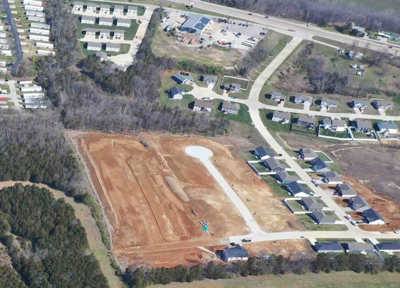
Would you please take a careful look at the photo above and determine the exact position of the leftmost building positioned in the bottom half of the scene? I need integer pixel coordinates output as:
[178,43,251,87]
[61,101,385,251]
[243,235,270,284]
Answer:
[219,247,248,261]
